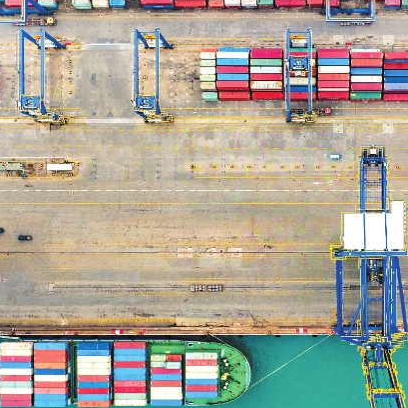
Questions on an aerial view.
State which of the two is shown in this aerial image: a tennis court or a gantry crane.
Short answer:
gantry crane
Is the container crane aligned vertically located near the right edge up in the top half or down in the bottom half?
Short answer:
bottom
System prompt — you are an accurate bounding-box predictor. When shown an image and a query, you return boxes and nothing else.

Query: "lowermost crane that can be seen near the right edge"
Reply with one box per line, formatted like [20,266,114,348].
[323,145,408,408]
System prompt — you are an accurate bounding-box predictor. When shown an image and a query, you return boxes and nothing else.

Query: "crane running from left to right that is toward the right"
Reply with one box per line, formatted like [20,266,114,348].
[316,0,375,25]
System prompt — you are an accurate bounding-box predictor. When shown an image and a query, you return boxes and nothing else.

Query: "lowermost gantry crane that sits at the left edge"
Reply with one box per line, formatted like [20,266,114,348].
[15,29,71,124]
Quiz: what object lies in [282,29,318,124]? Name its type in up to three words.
container crane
